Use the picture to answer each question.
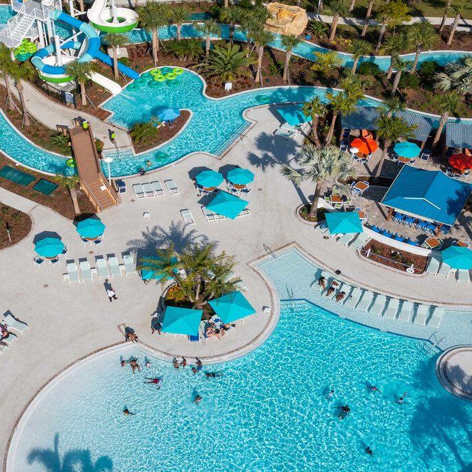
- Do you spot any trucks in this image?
No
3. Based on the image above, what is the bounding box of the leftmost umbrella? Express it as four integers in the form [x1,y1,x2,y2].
[35,238,65,267]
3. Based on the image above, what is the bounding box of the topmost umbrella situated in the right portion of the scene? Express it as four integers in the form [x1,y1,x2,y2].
[277,105,311,133]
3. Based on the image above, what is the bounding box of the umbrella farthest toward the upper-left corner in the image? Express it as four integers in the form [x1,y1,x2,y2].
[154,109,180,135]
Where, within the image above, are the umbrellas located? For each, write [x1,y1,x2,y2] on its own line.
[35,238,65,267]
[154,109,180,135]
[209,291,255,324]
[277,105,311,133]
[76,220,105,250]
[441,243,472,272]
[195,170,224,199]
[326,212,363,241]
[349,139,378,156]
[206,191,247,224]
[163,307,201,337]
[393,143,420,161]
[226,168,254,188]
